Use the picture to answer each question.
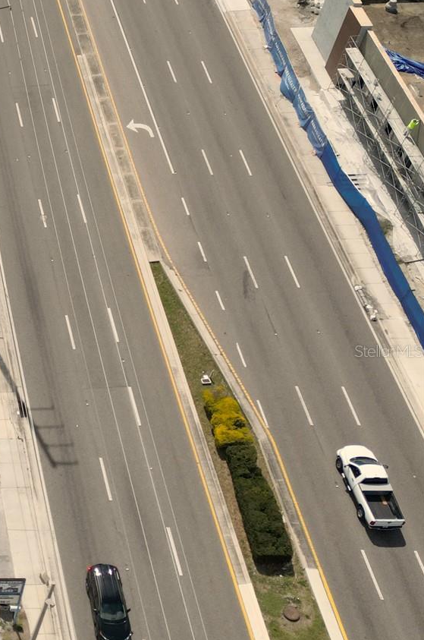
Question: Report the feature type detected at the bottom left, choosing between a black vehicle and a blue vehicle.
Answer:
black vehicle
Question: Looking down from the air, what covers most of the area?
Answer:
paved ground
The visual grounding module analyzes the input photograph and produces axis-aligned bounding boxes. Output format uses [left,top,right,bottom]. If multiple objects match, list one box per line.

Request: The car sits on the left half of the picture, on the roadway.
[84,563,133,640]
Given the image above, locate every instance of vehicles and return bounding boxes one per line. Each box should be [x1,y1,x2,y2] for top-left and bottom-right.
[340,447,407,533]
[84,563,133,640]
